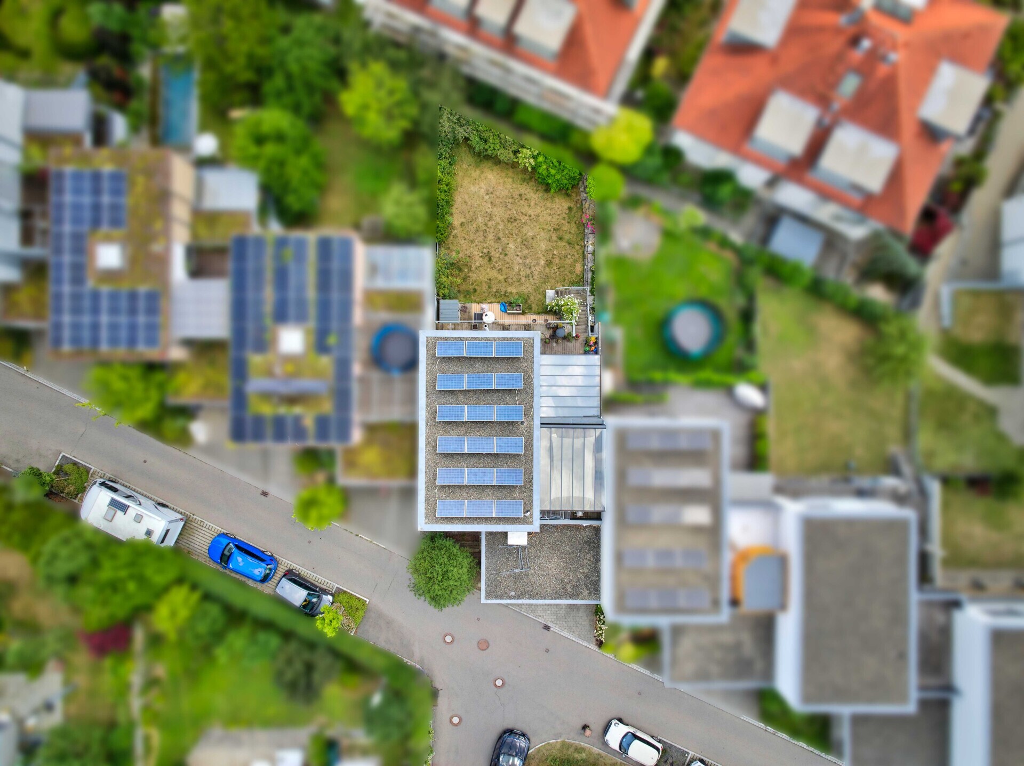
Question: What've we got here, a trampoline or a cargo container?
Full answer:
I can see a trampoline in this picture.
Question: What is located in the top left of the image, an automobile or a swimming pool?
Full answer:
It is a swimming pool that can be seen in the top left of the image.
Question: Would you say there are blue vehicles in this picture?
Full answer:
Yes, there's a blue vehicle down there.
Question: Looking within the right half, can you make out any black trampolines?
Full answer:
No, within the right half there is no black trampoline.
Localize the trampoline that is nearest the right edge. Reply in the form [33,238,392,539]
[664,298,730,357]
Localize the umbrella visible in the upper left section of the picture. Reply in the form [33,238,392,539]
[193,131,227,162]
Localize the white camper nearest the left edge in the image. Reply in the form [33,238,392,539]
[74,477,189,560]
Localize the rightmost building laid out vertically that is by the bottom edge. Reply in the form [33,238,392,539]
[934,586,1024,766]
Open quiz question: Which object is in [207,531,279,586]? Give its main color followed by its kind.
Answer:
blue car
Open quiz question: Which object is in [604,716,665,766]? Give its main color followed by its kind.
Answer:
white car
